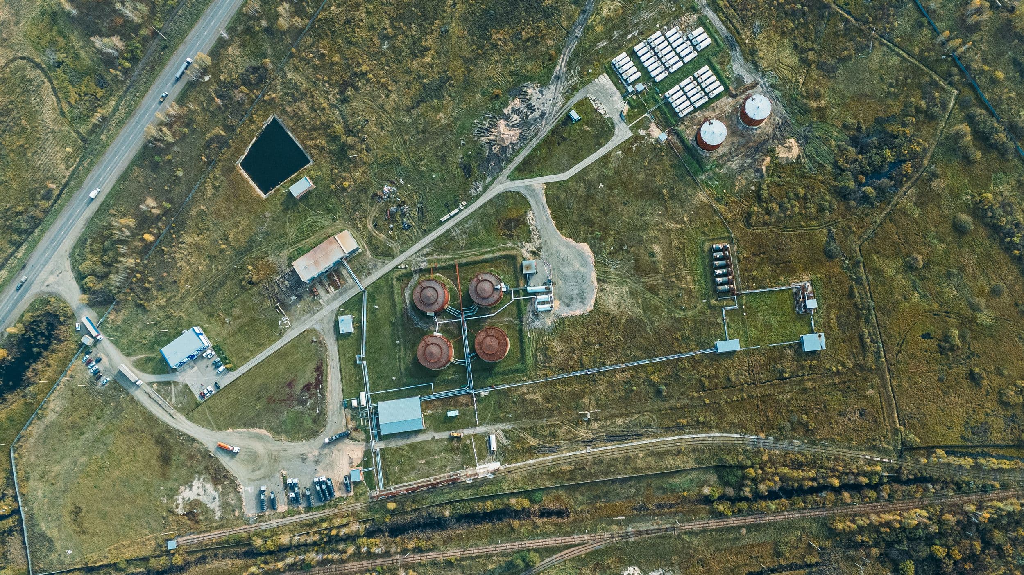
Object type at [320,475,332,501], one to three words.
vehicle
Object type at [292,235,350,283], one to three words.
building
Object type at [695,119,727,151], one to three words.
storage tank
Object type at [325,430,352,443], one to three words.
vehicle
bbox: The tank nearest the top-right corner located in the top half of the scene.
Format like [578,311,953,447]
[739,94,772,127]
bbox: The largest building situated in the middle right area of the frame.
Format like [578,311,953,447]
[800,333,826,351]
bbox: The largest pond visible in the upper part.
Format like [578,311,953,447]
[236,114,314,198]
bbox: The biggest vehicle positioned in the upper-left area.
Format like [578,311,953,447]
[176,58,194,80]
